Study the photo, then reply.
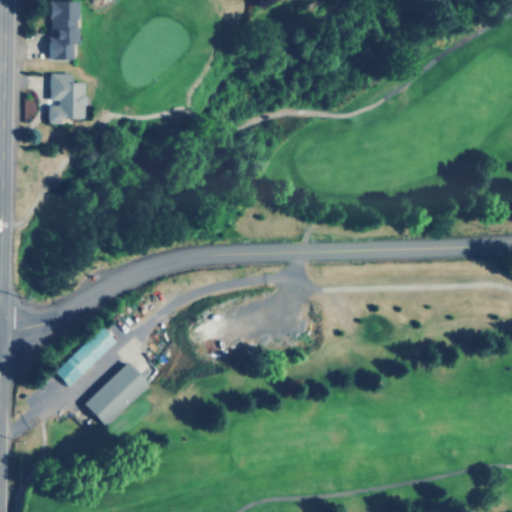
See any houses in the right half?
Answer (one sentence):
No, in the right half there is no house.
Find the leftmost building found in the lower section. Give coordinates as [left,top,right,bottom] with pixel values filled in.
[56,328,117,388]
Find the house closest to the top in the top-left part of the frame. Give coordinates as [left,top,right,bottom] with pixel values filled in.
[49,0,83,60]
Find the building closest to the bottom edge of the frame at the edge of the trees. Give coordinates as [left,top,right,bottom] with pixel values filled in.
[86,364,149,427]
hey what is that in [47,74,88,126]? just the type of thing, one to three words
house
